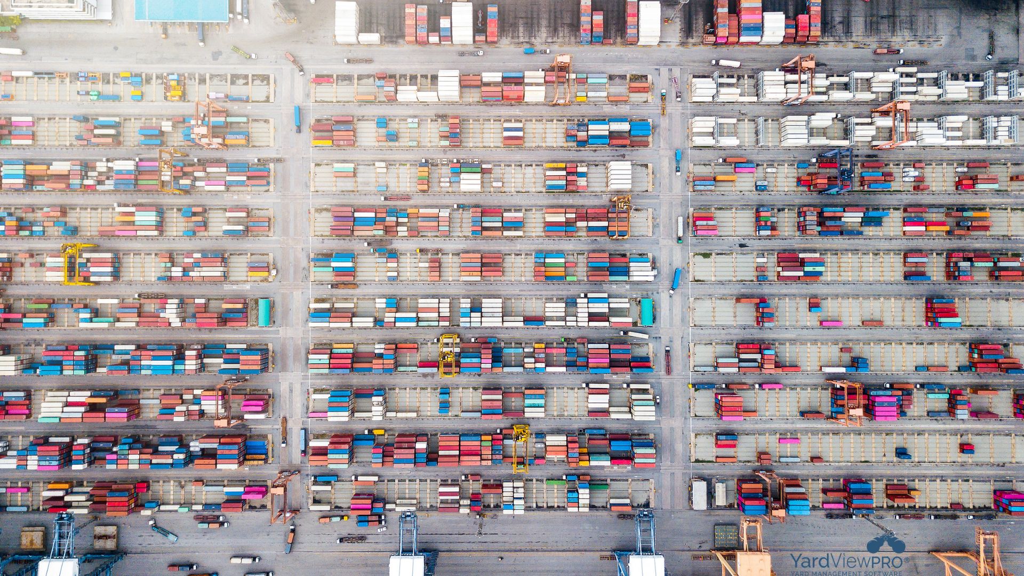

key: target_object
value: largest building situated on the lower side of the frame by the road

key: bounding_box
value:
[689,477,707,509]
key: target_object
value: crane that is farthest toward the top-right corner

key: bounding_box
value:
[872,100,912,151]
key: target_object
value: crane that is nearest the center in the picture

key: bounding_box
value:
[439,334,461,380]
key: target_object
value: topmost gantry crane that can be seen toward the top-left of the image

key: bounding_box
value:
[193,100,228,151]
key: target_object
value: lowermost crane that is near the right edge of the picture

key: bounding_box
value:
[930,529,1011,576]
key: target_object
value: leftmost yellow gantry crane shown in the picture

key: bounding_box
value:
[63,241,101,287]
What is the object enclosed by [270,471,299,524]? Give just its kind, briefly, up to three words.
container crane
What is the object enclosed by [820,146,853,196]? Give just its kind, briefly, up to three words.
container crane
